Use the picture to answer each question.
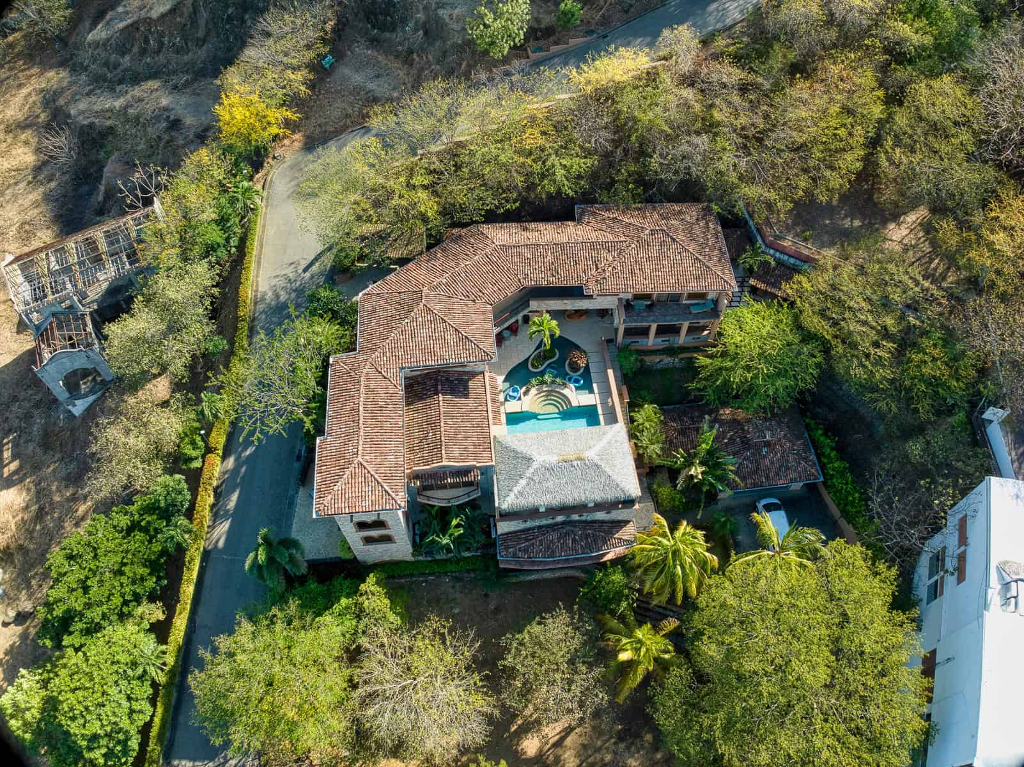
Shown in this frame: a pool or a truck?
pool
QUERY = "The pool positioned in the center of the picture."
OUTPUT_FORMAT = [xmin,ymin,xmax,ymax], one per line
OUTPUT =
[504,334,605,436]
